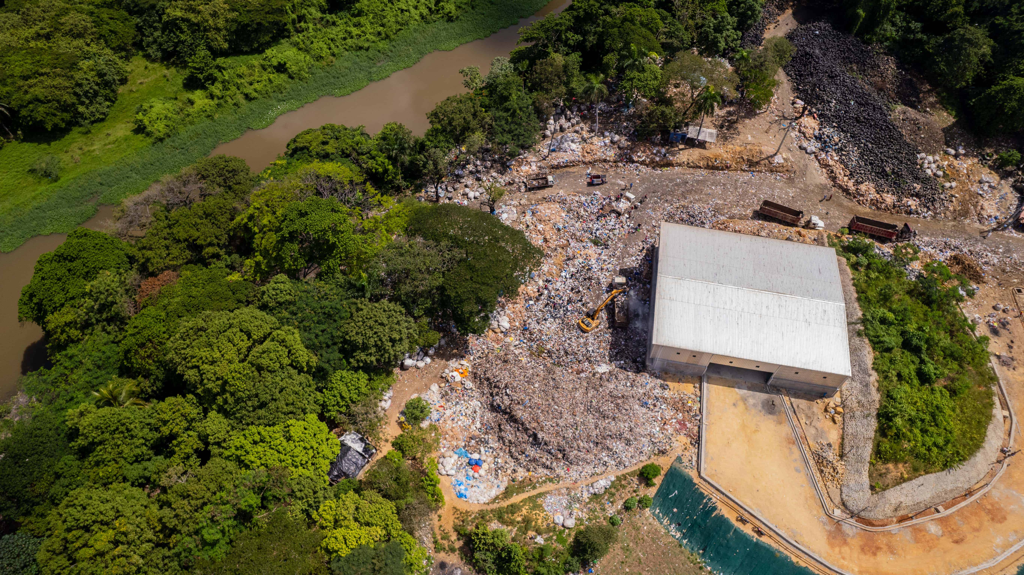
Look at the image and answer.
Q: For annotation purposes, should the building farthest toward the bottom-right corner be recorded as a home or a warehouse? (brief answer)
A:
warehouse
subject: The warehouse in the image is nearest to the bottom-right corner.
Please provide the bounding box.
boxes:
[647,222,852,396]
